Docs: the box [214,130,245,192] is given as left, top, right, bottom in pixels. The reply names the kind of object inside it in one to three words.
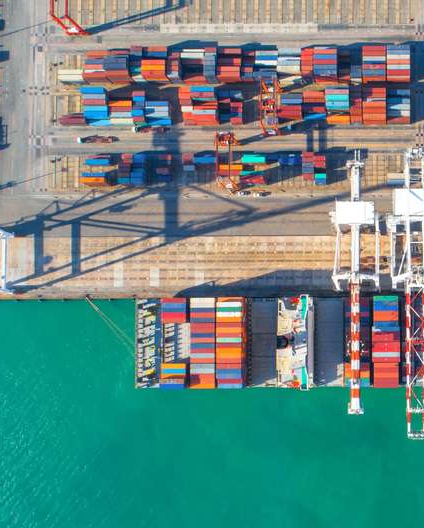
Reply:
container crane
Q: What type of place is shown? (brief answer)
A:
port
